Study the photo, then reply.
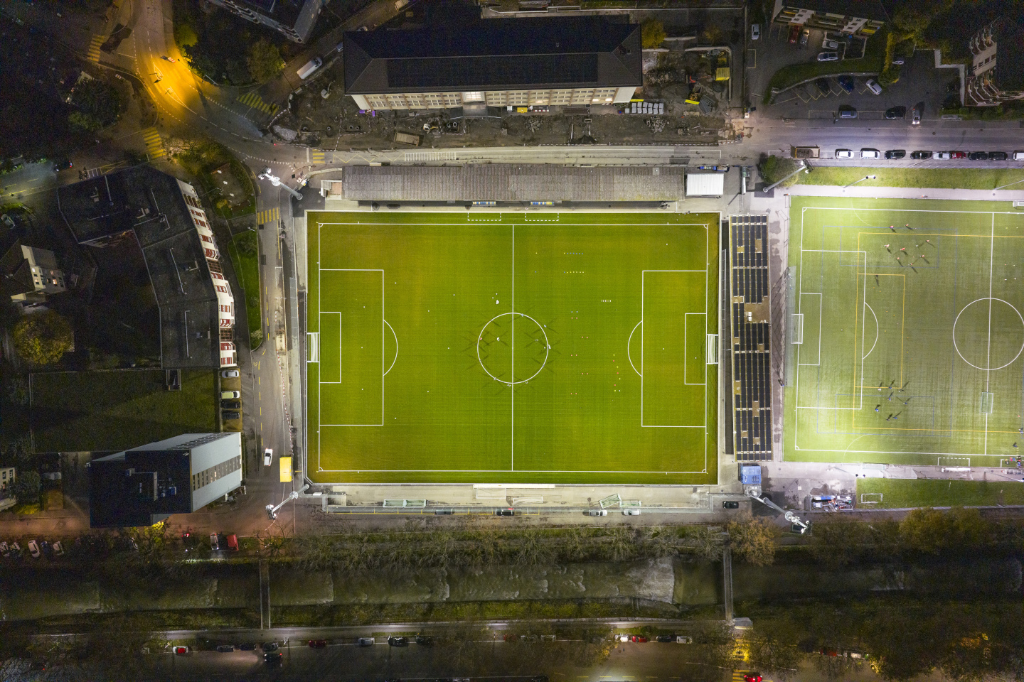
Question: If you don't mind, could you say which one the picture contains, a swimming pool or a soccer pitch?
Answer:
soccer pitch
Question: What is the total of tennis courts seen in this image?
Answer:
0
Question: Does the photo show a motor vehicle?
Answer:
Yes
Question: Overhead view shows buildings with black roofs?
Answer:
Yes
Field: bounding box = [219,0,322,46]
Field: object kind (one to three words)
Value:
house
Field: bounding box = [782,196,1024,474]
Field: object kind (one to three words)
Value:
soccer field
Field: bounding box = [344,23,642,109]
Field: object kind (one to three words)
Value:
building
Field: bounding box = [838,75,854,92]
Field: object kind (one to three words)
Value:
car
